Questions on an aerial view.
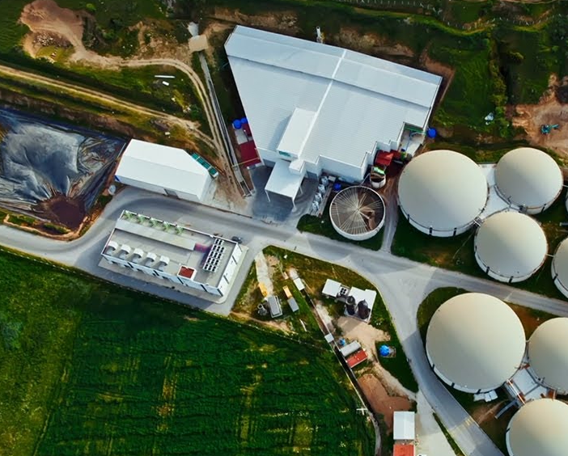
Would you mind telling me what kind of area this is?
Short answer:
industrial area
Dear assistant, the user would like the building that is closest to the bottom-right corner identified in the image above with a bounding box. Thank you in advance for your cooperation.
[494,363,555,419]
